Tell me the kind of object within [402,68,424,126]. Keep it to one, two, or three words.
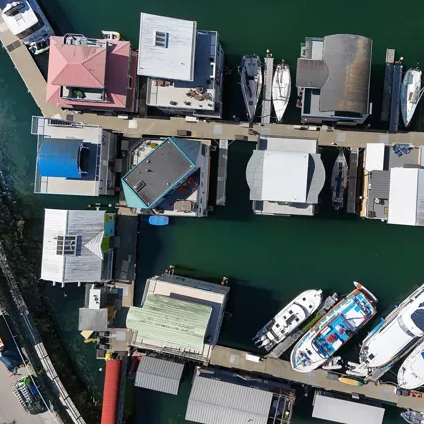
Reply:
boat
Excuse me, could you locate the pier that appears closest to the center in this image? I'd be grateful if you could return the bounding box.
[216,139,228,206]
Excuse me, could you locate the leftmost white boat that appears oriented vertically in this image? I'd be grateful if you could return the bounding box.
[272,64,291,121]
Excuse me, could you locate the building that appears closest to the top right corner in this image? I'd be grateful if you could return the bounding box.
[297,34,372,123]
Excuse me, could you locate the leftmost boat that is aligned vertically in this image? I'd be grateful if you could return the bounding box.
[241,54,263,121]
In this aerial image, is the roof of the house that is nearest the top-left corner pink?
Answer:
Yes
